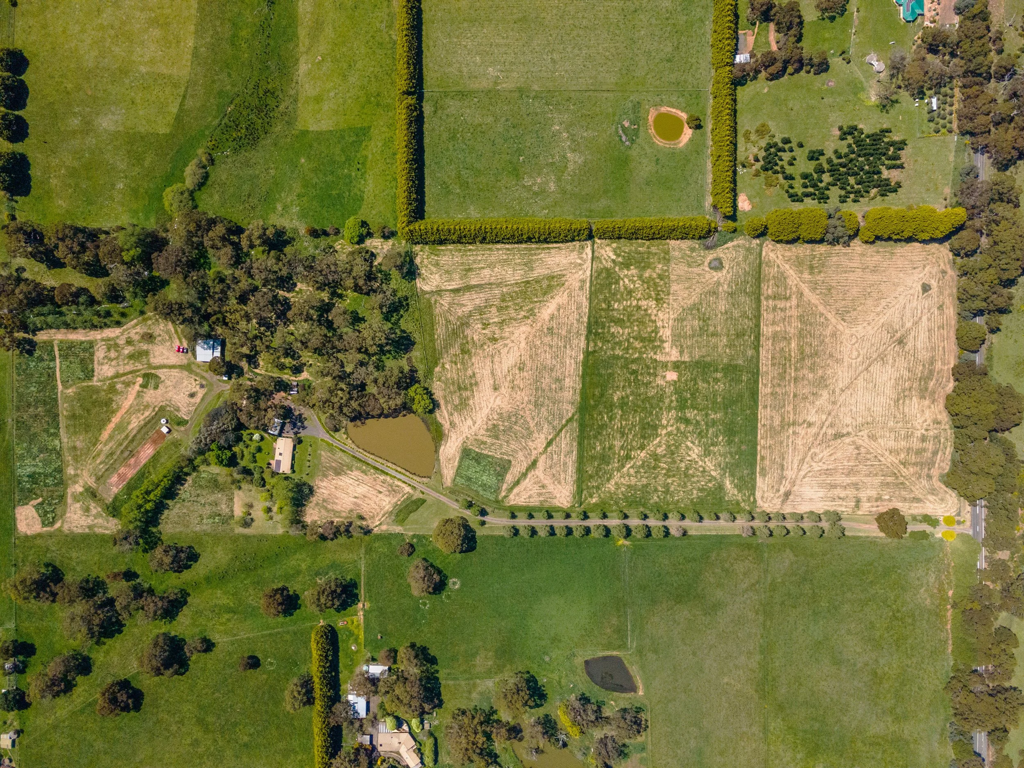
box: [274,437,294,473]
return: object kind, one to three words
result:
house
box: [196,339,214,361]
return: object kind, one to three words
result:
shed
